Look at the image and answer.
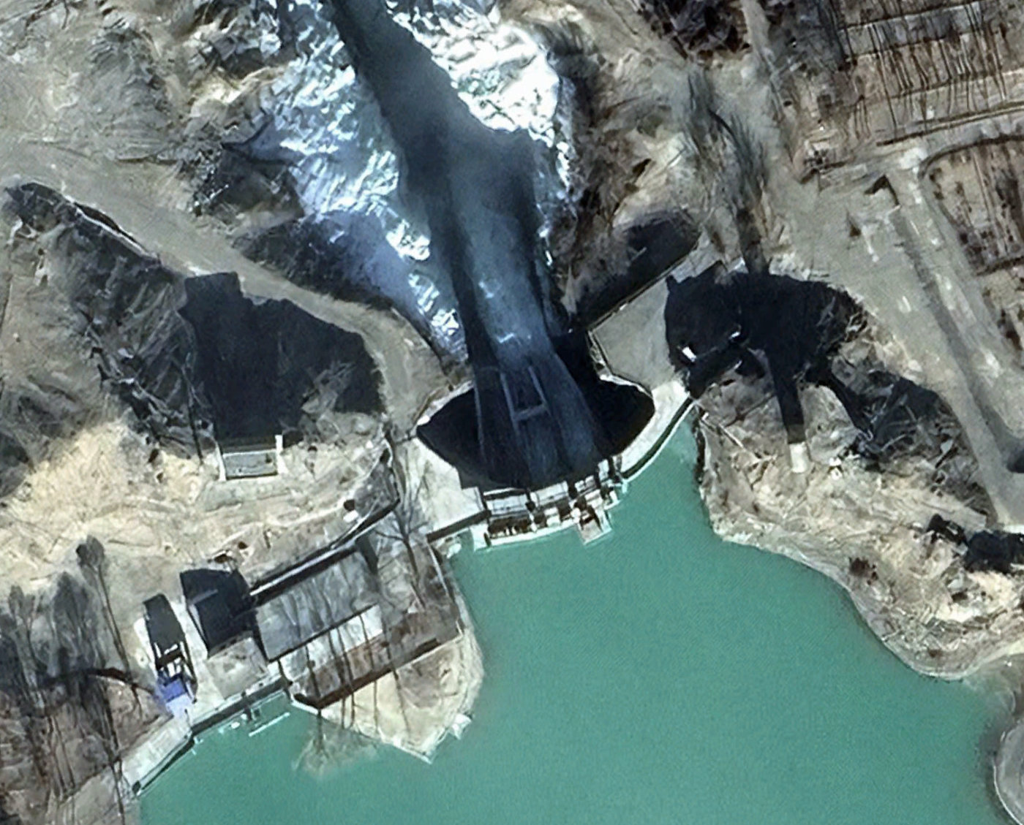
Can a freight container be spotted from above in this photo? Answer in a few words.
No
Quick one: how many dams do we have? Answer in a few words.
1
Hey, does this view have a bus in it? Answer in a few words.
No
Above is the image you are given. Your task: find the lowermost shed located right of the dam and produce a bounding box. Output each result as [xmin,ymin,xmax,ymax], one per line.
[926,513,965,548]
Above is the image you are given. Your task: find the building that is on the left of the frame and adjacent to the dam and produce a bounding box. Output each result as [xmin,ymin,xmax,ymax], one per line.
[258,537,380,665]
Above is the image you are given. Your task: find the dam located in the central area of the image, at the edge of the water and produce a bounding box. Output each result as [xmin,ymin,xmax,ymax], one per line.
[406,219,693,548]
